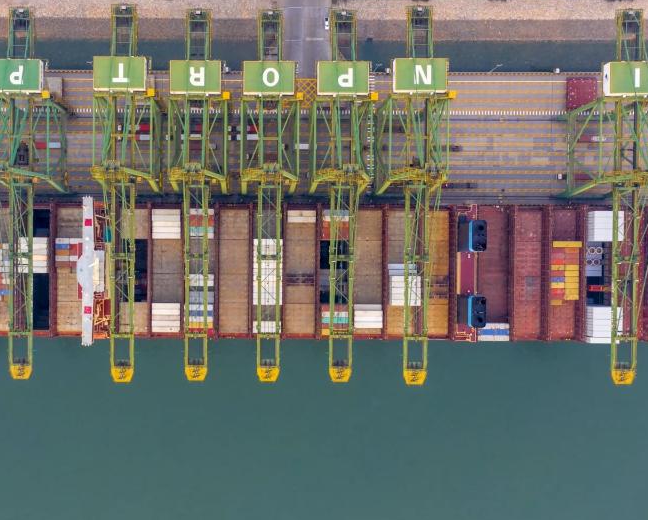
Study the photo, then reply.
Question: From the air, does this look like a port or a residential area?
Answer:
port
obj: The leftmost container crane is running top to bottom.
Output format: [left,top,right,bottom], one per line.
[0,6,78,379]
